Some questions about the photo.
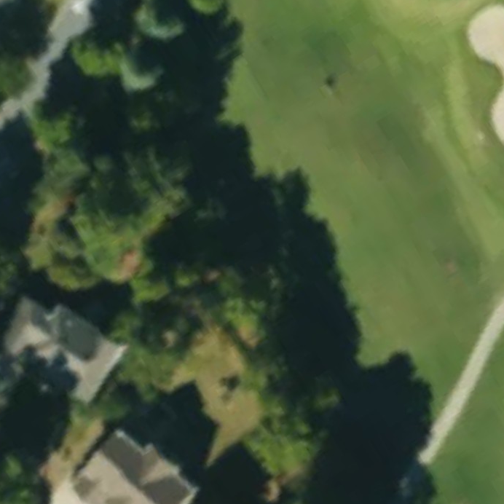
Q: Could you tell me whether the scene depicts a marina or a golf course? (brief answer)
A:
golf course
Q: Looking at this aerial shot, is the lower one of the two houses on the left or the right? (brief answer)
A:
left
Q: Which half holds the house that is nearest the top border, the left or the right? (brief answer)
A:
left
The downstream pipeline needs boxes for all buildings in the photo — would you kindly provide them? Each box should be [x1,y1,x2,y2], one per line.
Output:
[73,427,193,504]
[1,297,125,403]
